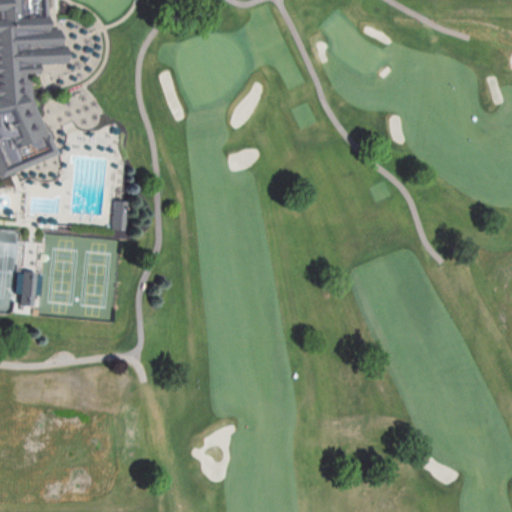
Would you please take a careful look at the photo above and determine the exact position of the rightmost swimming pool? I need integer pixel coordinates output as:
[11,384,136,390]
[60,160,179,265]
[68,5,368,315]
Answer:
[70,156,106,222]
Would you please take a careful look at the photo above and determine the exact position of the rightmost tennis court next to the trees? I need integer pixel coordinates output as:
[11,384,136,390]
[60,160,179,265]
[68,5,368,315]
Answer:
[76,238,118,321]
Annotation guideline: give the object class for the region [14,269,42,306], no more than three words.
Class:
building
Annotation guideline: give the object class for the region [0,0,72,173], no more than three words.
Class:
building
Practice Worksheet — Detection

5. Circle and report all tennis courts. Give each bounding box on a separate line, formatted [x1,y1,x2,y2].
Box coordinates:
[40,235,81,318]
[76,238,118,321]
[0,232,16,314]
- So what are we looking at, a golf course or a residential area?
golf course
